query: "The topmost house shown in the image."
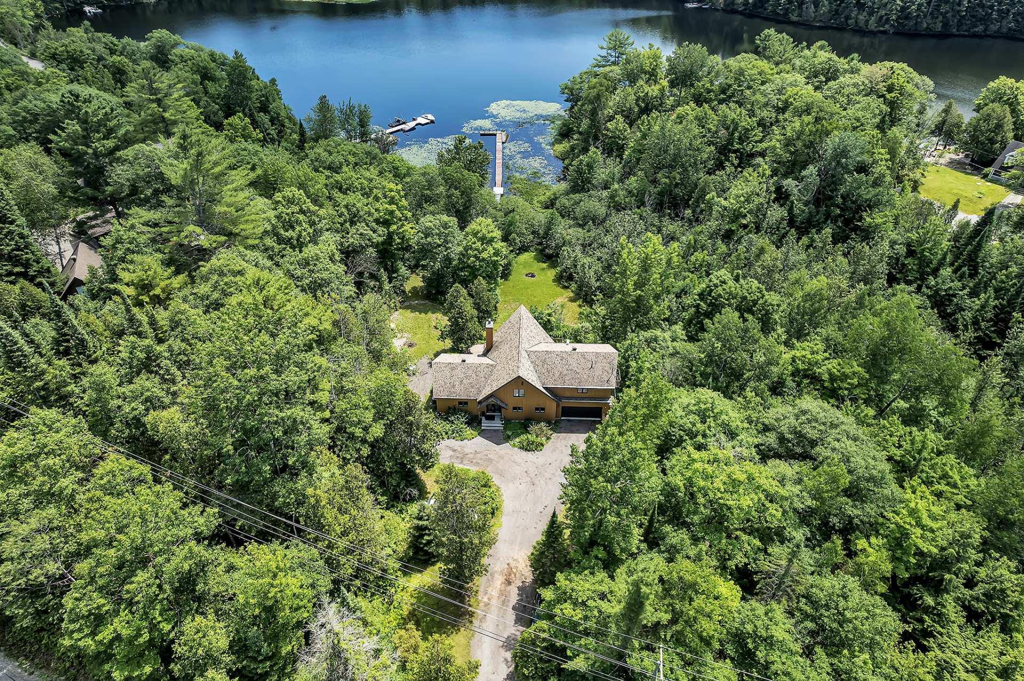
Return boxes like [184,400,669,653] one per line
[984,139,1024,197]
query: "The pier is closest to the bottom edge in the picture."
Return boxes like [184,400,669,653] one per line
[481,129,505,187]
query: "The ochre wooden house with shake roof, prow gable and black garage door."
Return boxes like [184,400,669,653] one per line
[432,305,625,431]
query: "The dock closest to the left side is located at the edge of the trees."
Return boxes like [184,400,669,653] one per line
[373,113,435,137]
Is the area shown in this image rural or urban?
rural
